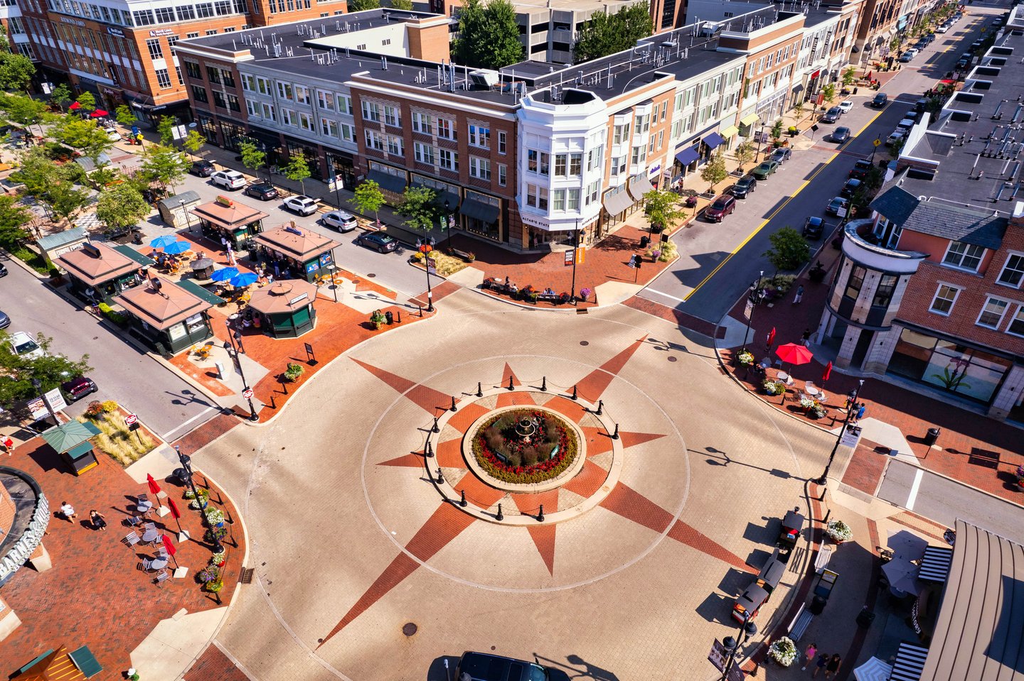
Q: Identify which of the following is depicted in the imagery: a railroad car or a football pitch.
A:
railroad car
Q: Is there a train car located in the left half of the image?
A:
No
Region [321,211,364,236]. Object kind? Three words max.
car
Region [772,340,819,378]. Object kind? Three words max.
umbrella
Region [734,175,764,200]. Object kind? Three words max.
car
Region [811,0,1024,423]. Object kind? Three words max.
building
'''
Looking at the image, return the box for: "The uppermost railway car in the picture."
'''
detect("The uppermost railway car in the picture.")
[771,537,796,569]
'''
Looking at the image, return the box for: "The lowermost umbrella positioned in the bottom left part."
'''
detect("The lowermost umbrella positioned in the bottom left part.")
[167,542,192,581]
